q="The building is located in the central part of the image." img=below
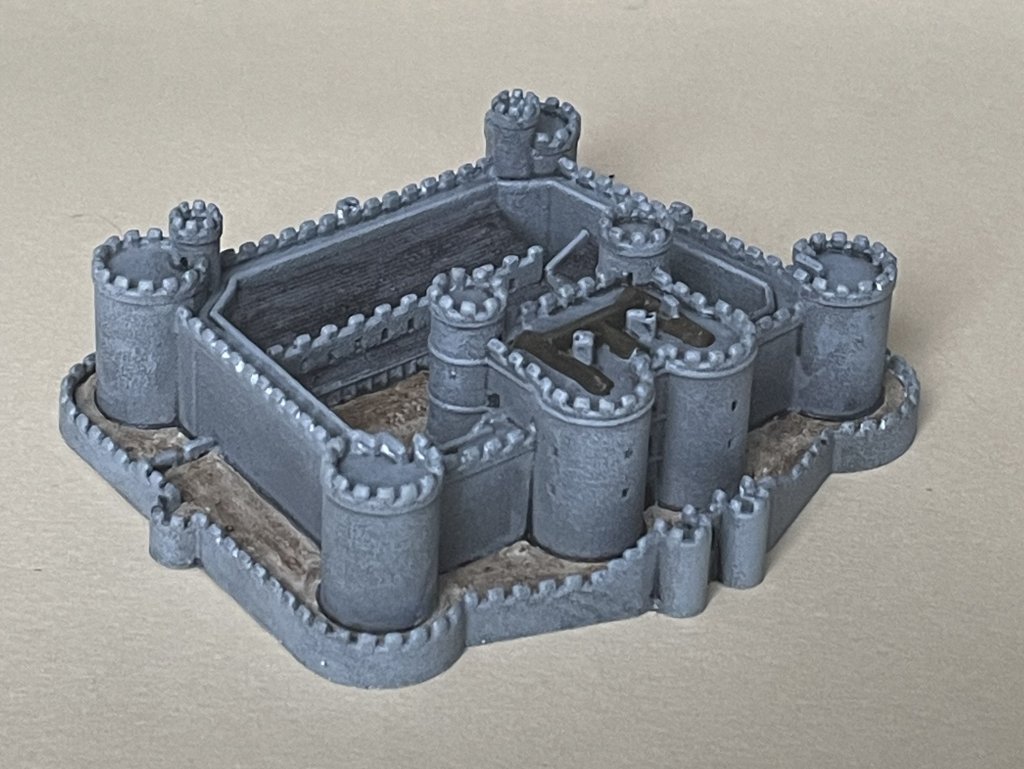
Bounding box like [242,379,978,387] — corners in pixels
[58,90,919,689]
